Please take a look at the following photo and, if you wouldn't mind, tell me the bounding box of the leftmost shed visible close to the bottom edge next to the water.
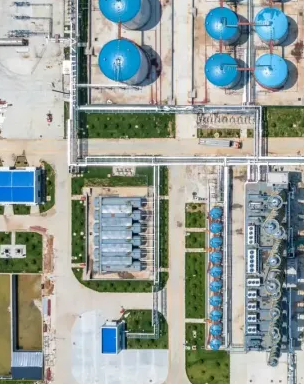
[11,350,47,380]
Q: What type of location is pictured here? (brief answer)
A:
industrial area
